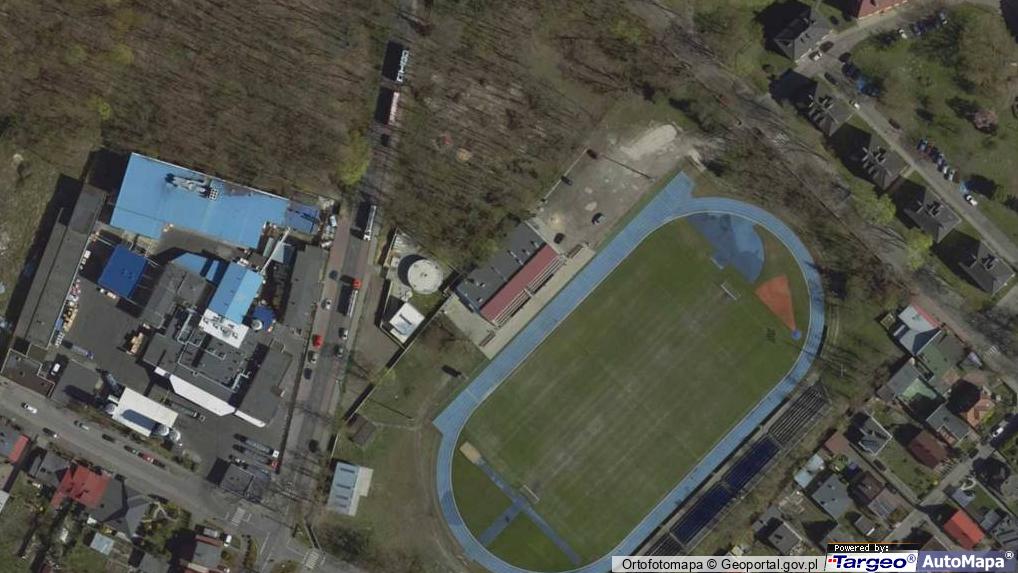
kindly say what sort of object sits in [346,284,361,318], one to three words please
vehicle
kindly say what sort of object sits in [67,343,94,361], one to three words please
vehicle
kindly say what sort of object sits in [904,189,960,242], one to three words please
house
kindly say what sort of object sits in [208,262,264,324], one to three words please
building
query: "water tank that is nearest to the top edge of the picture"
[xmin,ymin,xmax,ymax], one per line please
[408,258,443,294]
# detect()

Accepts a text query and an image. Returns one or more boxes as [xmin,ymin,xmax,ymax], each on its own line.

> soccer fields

[453,211,809,573]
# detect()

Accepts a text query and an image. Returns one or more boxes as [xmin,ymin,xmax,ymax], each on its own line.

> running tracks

[430,167,826,573]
